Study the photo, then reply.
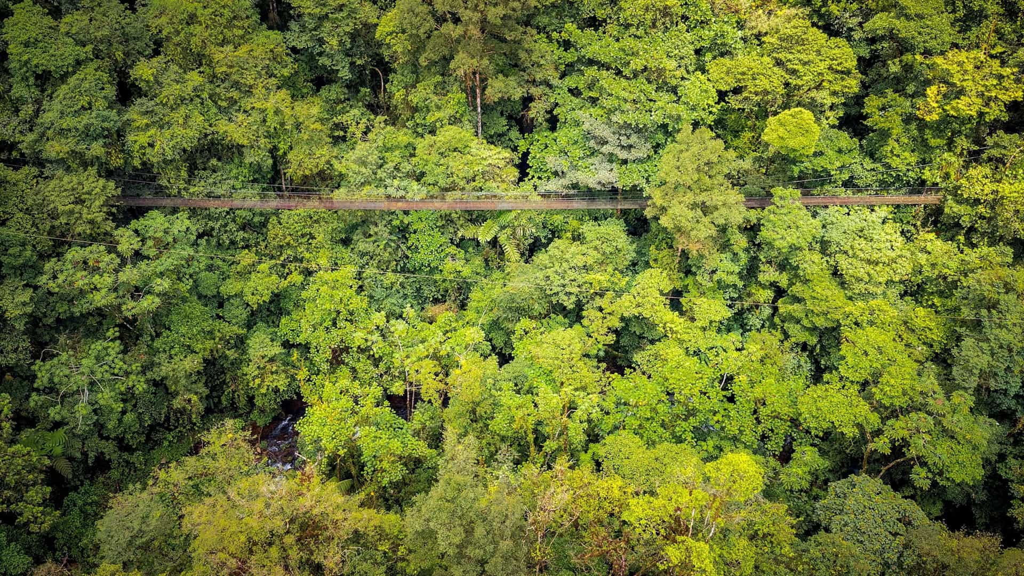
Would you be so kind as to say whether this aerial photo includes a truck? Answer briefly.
No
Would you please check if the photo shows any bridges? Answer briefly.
Yes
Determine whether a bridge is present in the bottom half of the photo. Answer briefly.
No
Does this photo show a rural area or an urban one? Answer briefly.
rural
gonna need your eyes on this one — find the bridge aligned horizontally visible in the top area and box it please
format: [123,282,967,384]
[6,155,1013,212]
